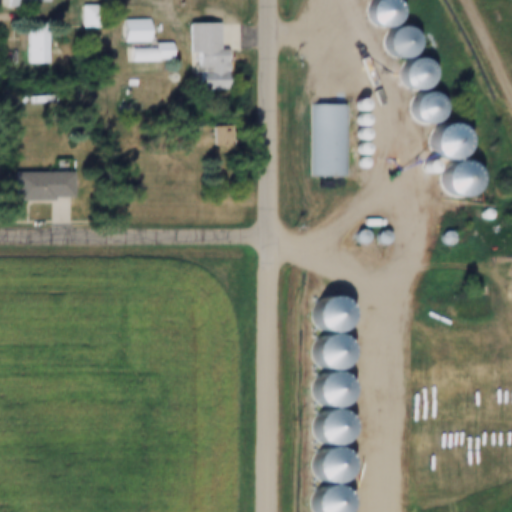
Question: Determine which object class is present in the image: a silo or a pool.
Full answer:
There is a silo in the scene.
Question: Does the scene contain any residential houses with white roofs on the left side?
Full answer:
Yes, a residential house with a white roof shows up on the left side.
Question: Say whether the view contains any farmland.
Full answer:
Yes, some farmland is visible.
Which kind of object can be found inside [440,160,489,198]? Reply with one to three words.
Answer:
silo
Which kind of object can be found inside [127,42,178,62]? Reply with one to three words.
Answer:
house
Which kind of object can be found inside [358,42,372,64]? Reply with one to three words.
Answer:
vehicle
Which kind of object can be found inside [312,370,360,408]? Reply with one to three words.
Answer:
silo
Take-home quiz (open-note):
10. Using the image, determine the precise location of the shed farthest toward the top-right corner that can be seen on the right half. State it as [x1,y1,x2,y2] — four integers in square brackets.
[307,103,349,177]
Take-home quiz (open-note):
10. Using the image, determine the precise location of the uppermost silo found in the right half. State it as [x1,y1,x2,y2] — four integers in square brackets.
[365,0,410,31]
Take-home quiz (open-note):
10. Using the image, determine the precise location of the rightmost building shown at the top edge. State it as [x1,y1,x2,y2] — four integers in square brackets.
[190,22,233,90]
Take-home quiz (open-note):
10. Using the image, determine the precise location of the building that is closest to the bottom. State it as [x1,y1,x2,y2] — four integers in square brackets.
[20,172,78,200]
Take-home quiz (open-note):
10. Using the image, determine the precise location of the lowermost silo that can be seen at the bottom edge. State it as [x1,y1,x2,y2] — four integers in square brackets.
[312,482,360,512]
